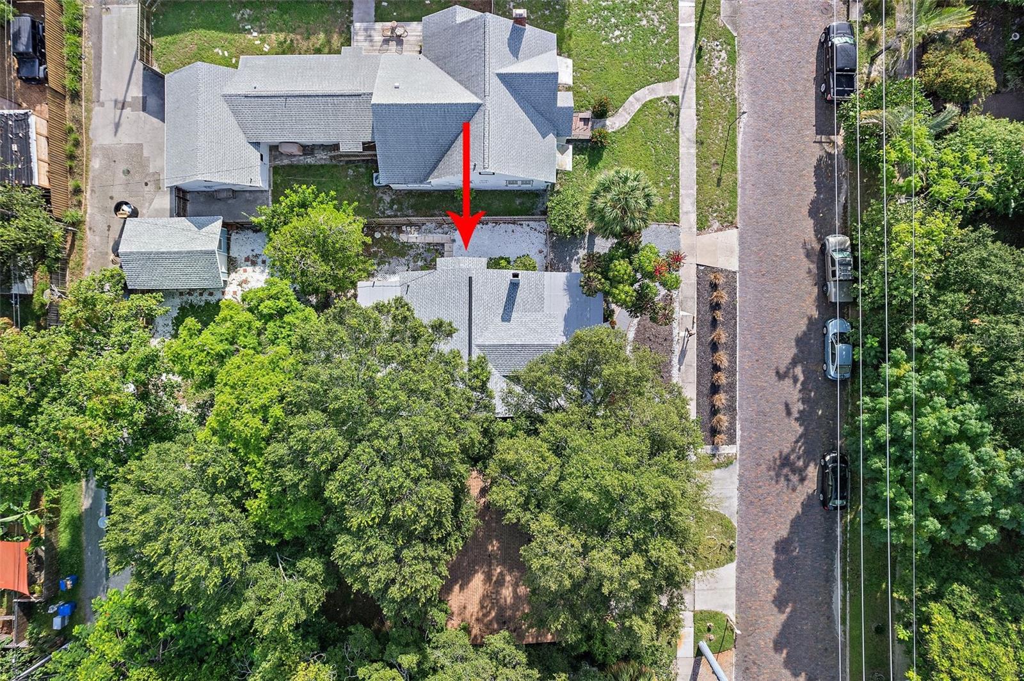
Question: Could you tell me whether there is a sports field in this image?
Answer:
No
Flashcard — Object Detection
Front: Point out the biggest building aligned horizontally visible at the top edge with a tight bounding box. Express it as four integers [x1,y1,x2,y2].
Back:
[165,5,591,193]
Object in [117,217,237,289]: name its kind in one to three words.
shed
